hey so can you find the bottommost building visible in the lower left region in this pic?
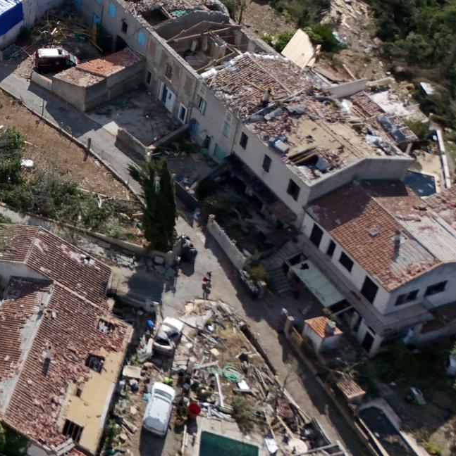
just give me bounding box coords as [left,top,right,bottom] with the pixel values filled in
[0,275,134,456]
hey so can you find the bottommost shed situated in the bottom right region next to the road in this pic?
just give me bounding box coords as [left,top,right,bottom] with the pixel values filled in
[335,377,365,408]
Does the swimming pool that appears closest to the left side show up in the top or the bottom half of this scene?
bottom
